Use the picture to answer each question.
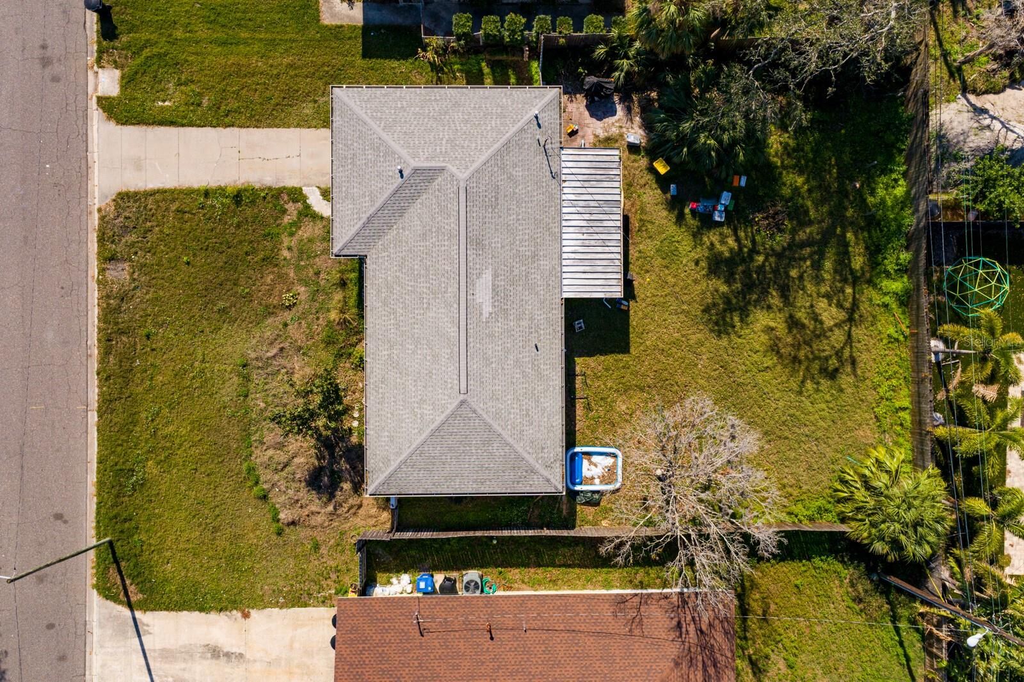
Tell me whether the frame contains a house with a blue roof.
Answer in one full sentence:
No, this view has no house with a blue roof in it.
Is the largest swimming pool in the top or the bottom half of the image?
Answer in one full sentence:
Seen from above, the largest swimming pool lies in the bottom half of the view.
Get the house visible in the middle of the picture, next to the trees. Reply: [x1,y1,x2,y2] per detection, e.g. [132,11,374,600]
[330,84,564,509]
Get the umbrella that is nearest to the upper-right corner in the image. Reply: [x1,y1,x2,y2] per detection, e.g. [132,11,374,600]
[583,76,614,100]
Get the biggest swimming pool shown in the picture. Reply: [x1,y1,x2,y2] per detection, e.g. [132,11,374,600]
[567,447,621,490]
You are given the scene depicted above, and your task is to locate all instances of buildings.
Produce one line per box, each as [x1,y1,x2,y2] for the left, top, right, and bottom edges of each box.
[335,586,738,682]
[330,84,564,509]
